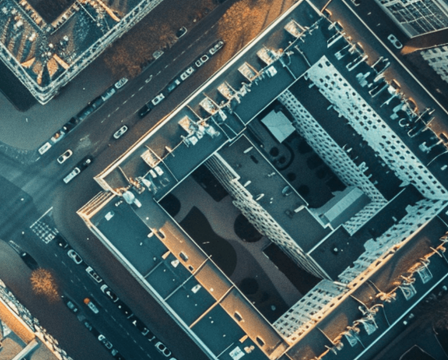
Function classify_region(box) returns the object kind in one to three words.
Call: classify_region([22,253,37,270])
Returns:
car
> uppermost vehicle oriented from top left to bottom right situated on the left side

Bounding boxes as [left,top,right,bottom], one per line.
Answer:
[55,234,70,250]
